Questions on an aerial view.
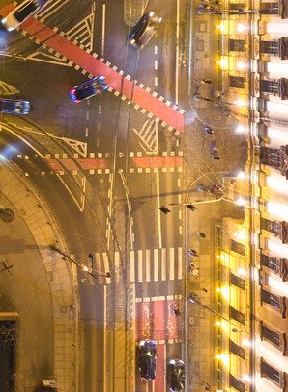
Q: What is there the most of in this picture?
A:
paved ground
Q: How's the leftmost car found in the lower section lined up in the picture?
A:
up and down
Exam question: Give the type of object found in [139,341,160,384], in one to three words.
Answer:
car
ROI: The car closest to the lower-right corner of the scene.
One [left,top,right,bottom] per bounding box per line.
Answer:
[169,356,191,392]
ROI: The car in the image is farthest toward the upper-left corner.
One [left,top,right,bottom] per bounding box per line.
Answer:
[5,0,43,30]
